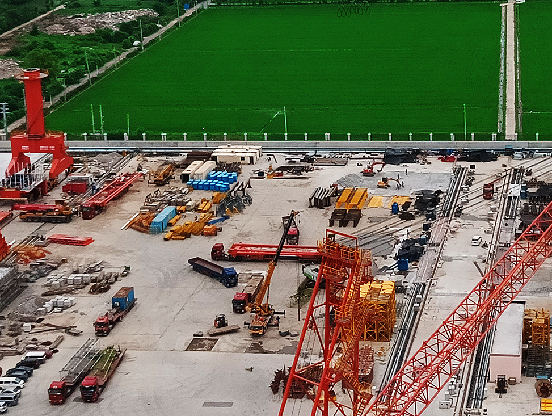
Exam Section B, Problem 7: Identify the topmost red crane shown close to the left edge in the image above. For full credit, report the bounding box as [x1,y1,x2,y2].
[0,70,78,184]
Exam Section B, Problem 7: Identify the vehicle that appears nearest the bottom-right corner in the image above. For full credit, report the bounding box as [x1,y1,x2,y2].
[495,374,509,394]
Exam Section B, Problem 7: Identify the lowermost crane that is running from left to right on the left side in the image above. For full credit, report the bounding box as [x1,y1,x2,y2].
[12,205,71,222]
